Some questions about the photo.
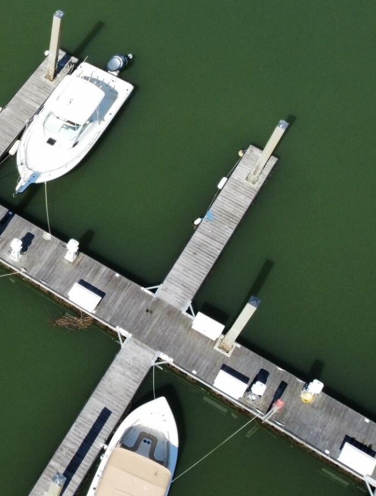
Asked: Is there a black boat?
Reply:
No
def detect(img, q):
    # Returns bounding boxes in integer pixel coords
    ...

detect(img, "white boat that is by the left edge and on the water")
[12,53,134,186]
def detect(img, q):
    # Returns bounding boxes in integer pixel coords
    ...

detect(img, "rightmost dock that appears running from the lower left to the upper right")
[141,146,277,318]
